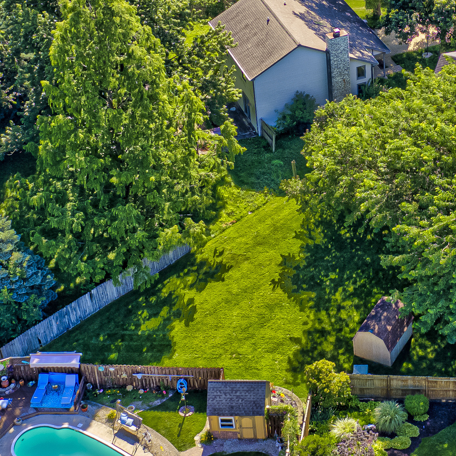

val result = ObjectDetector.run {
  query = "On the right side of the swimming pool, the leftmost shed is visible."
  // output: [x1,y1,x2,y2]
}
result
[206,380,271,439]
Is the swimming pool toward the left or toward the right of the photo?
left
